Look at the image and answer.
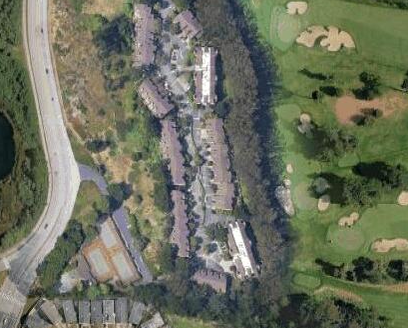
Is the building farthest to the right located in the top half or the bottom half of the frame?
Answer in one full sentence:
It is in the bottom half that the building farthest to the right appears.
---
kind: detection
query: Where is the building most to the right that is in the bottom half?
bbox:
[227,223,256,276]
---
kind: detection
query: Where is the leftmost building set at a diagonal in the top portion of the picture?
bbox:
[139,81,174,117]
